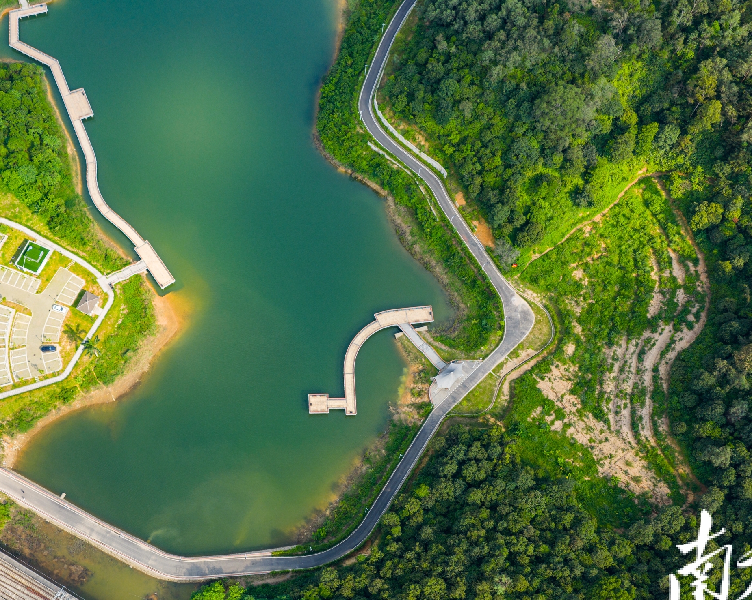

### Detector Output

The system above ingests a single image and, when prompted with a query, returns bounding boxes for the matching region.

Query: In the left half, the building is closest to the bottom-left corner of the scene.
[76,291,99,317]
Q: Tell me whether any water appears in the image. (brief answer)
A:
Yes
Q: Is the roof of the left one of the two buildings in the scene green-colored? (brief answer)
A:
Yes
